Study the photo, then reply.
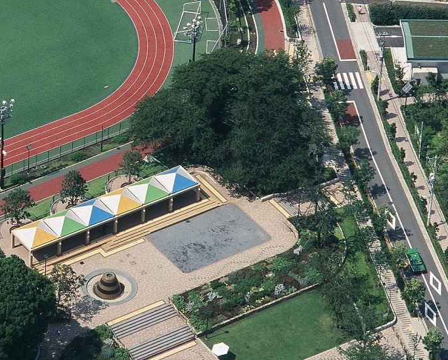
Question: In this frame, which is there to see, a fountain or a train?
fountain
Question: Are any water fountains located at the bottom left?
Yes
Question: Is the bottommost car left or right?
right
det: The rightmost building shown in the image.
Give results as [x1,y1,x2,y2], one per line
[382,19,448,99]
